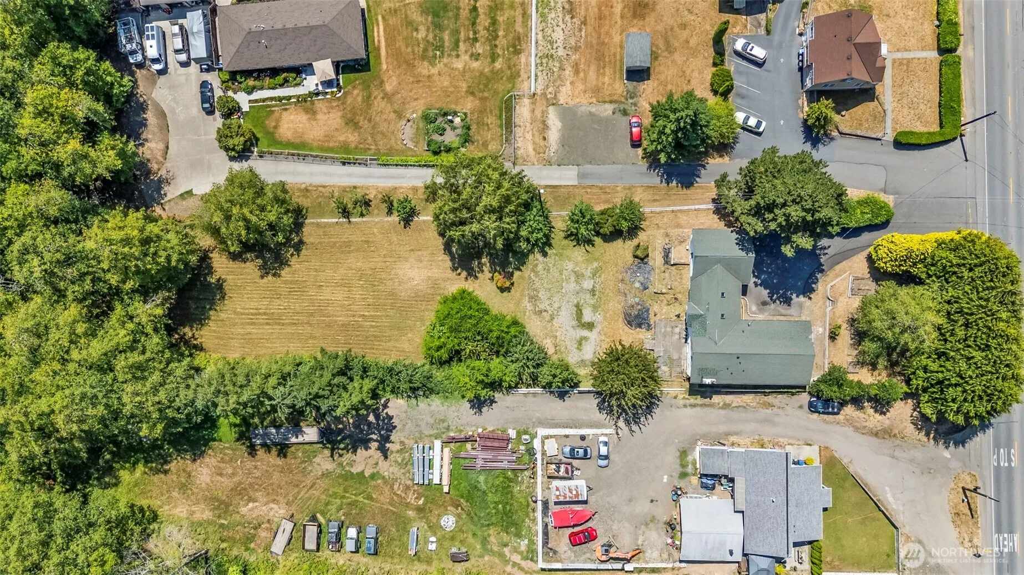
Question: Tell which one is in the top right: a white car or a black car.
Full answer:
Looking in the top right, you will find a white car.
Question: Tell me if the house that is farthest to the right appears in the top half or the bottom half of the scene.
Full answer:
The house that is farthest to the right sits in the top half of the picture.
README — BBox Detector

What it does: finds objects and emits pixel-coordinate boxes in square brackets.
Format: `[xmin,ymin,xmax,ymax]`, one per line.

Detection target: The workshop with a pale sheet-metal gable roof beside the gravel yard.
[677,495,743,561]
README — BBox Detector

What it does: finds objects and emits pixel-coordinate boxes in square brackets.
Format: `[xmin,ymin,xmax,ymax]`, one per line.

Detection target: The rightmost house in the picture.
[797,10,888,91]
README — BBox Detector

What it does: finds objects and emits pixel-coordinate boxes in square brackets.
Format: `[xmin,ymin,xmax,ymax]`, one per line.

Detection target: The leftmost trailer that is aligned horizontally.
[250,425,327,447]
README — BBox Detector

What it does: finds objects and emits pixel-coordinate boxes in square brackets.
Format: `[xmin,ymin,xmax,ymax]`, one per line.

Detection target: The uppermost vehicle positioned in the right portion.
[733,39,768,63]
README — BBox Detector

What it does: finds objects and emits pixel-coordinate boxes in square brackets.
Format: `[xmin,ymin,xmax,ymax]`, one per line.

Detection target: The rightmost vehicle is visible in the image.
[808,400,842,414]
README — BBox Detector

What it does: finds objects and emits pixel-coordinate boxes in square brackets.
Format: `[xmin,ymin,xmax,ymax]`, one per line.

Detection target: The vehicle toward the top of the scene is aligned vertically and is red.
[629,115,643,147]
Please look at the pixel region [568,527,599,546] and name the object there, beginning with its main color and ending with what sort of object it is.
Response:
red car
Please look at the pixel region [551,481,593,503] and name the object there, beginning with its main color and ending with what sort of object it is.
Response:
white trailer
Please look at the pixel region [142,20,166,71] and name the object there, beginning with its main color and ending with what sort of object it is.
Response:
white vehicle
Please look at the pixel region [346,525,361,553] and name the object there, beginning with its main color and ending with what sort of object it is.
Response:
white car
